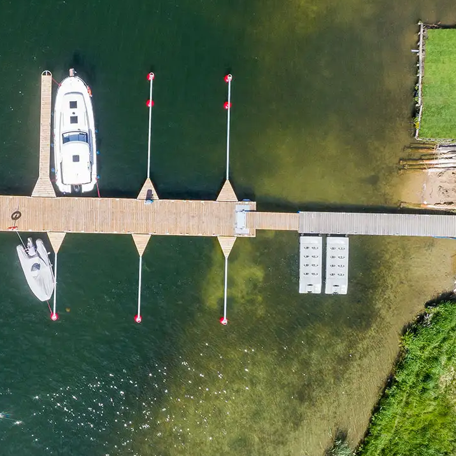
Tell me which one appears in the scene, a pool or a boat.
boat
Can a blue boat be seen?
No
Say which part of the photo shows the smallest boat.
left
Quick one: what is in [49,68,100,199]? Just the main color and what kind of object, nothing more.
white boat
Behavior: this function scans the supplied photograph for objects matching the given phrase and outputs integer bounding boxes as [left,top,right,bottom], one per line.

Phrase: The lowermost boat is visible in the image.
[17,233,54,315]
